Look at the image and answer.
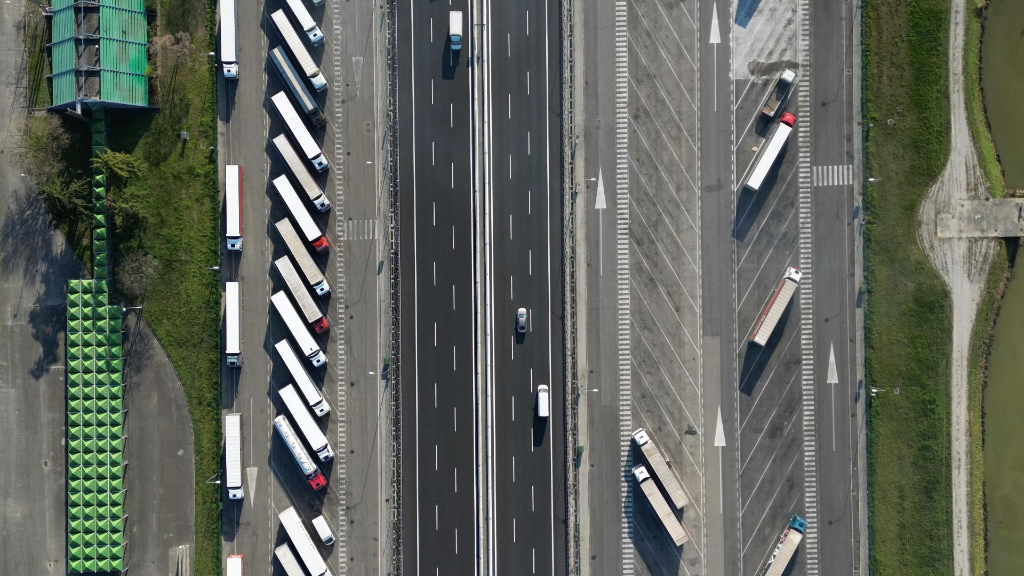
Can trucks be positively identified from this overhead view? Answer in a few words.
Yes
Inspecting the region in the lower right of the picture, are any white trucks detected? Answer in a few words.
Yes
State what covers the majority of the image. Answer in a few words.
paved ground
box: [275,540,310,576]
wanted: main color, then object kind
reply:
white truck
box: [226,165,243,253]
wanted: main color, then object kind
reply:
white vehicle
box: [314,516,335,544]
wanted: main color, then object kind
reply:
white vehicle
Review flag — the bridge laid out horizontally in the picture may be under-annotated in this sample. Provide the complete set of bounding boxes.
[937,198,1024,238]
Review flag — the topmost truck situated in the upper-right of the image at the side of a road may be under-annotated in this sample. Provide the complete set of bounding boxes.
[760,70,796,118]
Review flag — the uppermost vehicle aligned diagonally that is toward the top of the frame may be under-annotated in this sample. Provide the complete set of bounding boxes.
[286,0,326,48]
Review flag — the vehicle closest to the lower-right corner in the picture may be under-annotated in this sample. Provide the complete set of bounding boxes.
[760,512,810,576]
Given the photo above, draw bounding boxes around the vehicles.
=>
[536,384,549,417]
[226,414,244,502]
[271,9,330,93]
[275,540,310,576]
[226,282,243,369]
[313,0,325,6]
[275,217,333,299]
[275,255,332,336]
[272,92,332,174]
[270,46,329,129]
[751,265,805,345]
[227,554,245,576]
[280,506,338,576]
[274,337,333,418]
[220,0,239,81]
[632,426,689,509]
[276,414,330,492]
[286,0,326,48]
[744,110,799,193]
[270,289,330,370]
[273,175,332,256]
[314,516,335,544]
[760,70,796,118]
[516,308,527,332]
[226,165,243,253]
[630,462,688,545]
[760,512,810,576]
[273,134,333,215]
[450,12,463,50]
[279,383,338,463]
